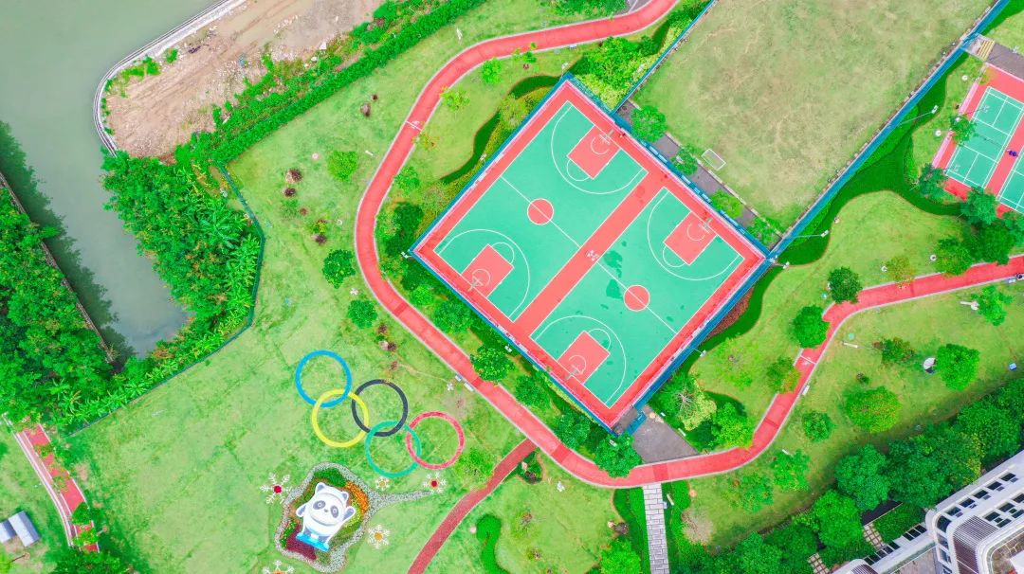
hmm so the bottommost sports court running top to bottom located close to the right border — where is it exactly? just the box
[999,147,1024,210]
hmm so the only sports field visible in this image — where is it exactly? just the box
[628,0,990,237]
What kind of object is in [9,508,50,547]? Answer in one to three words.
shed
